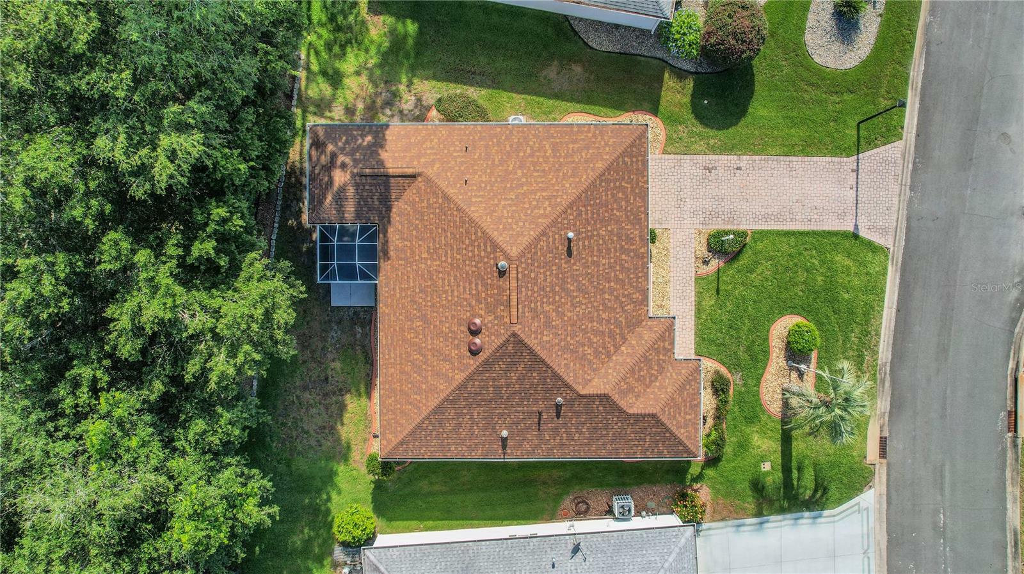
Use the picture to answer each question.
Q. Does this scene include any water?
No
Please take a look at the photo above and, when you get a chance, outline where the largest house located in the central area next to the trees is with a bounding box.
[307,123,703,460]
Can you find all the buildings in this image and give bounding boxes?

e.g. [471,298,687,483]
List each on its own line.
[307,123,703,460]
[361,516,699,574]
[478,0,676,35]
